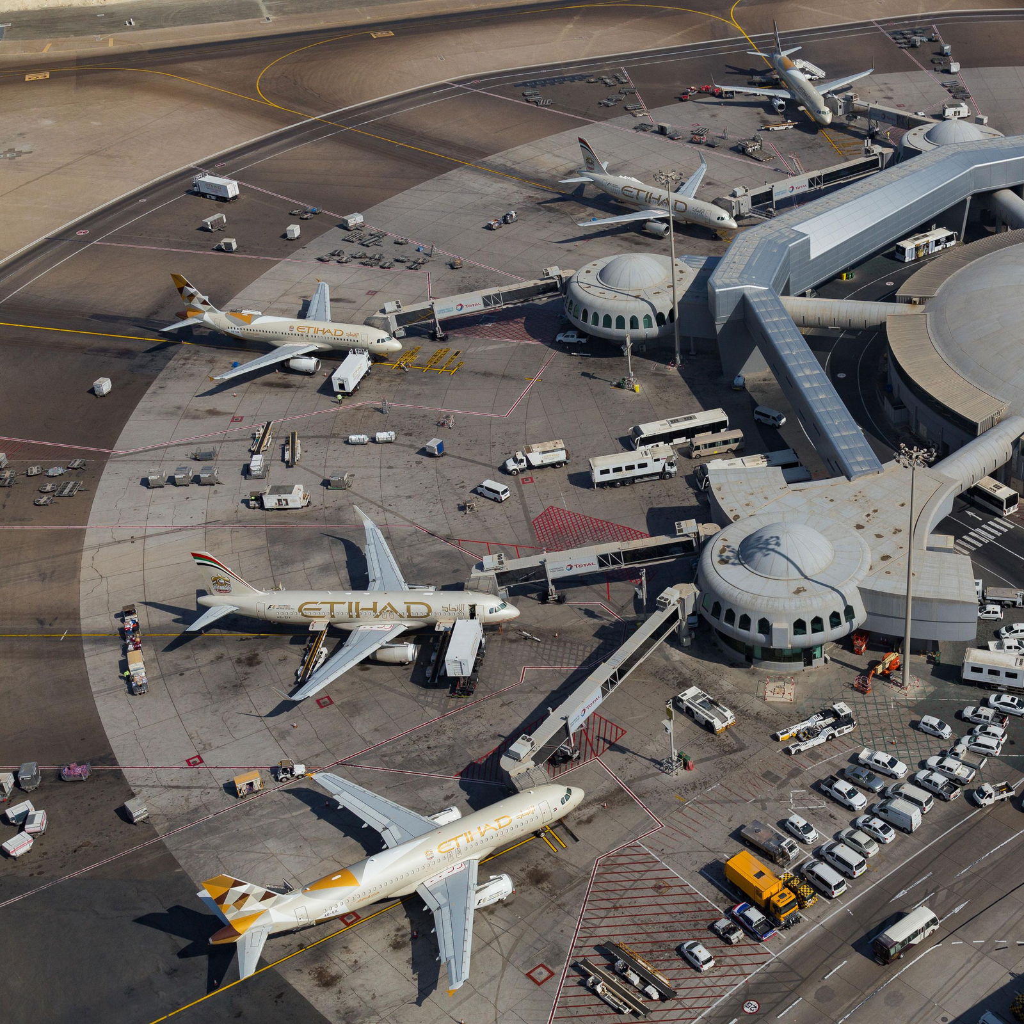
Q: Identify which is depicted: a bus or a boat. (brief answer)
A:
bus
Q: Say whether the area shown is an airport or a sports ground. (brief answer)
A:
airport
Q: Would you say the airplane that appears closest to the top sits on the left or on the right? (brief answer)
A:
right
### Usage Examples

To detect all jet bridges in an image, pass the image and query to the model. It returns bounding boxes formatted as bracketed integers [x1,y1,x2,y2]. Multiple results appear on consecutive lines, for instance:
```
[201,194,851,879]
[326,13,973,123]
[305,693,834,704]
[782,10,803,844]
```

[366,267,578,347]
[491,572,703,799]
[827,86,928,138]
[716,152,899,222]
[464,520,726,610]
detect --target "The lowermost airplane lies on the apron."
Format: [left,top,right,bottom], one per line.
[199,770,584,999]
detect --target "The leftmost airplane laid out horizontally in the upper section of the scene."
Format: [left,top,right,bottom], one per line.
[159,273,400,383]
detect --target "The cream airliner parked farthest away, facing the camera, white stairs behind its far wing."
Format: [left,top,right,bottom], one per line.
[710,24,875,126]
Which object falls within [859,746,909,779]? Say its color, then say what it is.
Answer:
white truck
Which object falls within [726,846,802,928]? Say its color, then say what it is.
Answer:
orange truck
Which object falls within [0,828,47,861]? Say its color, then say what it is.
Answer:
white trailer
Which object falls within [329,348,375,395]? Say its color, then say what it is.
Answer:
white truck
